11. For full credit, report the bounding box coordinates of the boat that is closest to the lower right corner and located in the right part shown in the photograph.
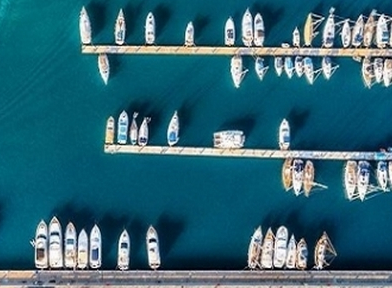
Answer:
[314,232,339,270]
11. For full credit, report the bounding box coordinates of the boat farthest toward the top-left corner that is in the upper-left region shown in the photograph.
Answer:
[78,6,91,46]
